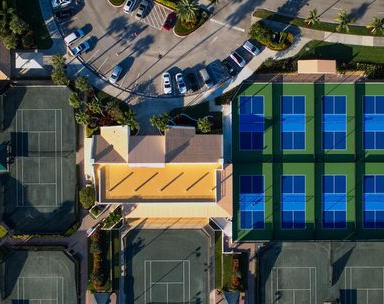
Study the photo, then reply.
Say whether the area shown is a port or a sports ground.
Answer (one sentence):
This looks like a sports ground.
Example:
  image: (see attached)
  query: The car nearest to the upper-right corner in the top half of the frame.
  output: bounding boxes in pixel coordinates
[242,39,260,58]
